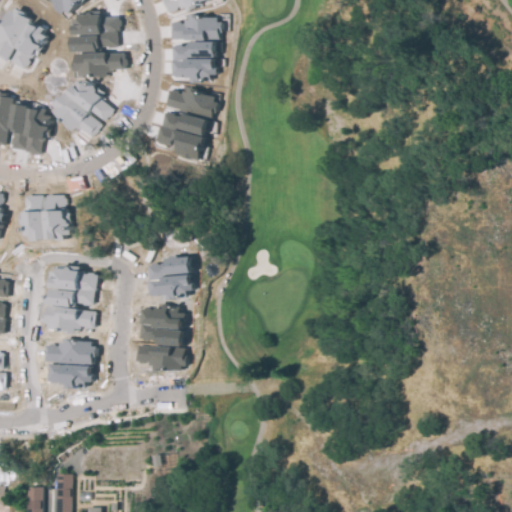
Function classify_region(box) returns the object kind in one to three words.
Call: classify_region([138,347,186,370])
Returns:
house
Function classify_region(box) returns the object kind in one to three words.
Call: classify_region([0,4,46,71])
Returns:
house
